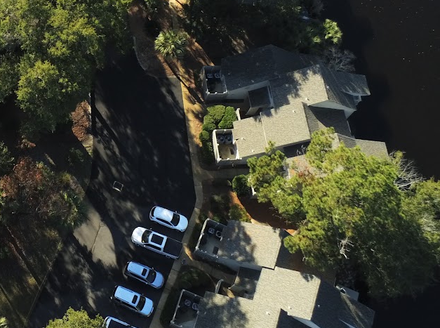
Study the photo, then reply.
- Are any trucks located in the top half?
No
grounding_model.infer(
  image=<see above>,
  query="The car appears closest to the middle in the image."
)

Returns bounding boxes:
[147,205,190,234]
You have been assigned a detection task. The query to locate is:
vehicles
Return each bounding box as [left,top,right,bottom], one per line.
[109,285,155,317]
[129,226,183,260]
[122,258,166,290]
[101,315,138,328]
[147,205,190,234]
